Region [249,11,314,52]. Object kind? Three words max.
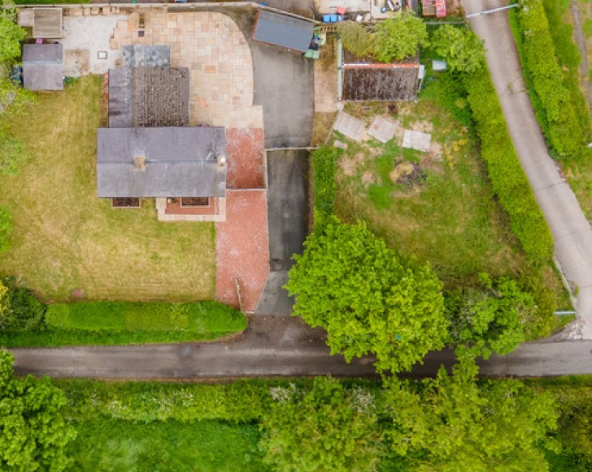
shed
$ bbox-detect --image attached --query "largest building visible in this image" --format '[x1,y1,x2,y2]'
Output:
[98,44,232,207]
